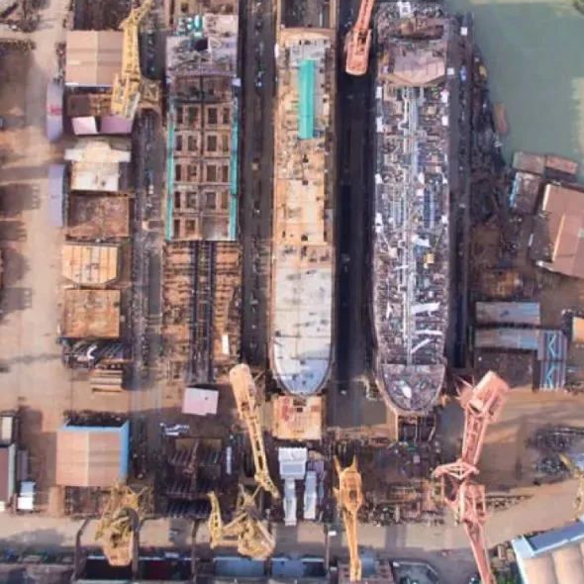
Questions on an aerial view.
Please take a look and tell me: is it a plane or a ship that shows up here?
ship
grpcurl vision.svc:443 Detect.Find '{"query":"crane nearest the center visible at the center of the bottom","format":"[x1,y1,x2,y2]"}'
[226,367,277,497]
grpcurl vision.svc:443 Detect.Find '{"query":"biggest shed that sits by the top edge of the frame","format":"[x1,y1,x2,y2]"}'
[66,28,129,89]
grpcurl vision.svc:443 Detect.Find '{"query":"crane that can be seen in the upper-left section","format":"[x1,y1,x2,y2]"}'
[112,1,157,109]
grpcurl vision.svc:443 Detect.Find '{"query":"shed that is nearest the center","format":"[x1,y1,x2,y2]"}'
[183,386,217,416]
